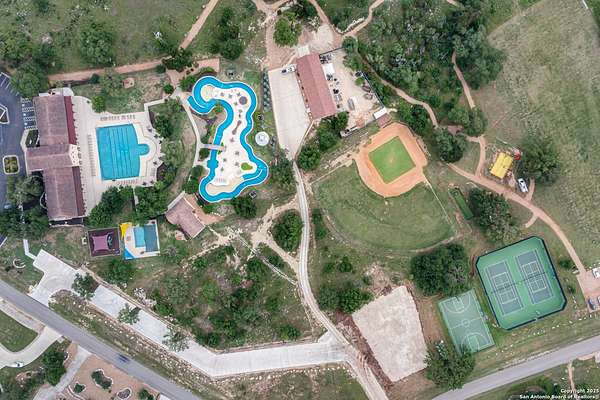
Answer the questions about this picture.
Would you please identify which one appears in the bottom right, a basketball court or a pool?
basketball court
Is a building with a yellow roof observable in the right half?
Yes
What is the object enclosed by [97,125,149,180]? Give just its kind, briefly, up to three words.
swimming pool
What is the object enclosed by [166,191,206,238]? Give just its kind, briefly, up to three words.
building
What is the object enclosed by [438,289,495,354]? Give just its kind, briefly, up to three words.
basketball court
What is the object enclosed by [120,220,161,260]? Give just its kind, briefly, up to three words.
swimming pool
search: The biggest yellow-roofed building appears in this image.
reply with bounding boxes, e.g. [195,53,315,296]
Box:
[488,152,513,179]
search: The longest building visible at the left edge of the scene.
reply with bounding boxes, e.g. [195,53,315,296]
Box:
[22,95,90,228]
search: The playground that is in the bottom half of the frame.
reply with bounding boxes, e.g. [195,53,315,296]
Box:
[87,227,121,257]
